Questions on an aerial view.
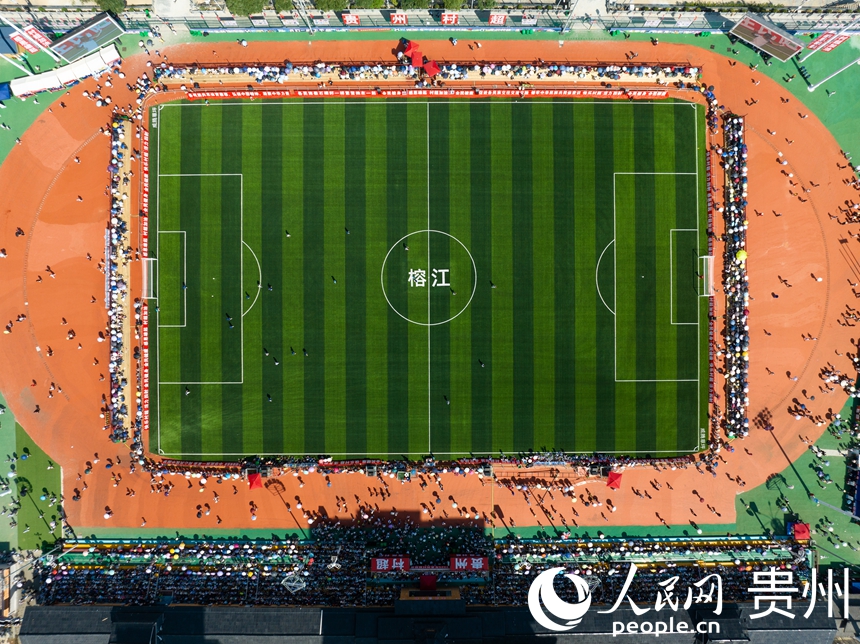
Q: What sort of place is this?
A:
sports ground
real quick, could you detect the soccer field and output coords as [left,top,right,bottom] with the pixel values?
[149,97,709,462]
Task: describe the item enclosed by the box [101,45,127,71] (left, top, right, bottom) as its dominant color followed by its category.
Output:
white tent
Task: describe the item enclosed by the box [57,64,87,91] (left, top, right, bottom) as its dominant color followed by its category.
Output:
white tent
